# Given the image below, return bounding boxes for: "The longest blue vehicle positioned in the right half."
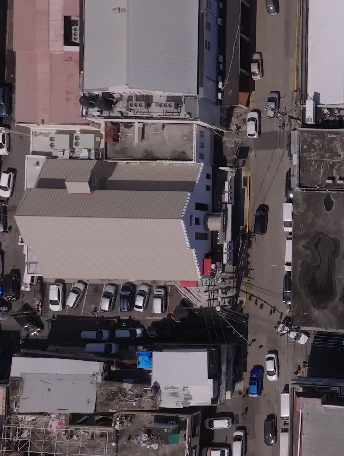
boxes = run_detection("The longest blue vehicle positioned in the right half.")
[249,365,264,400]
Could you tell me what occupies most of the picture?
buildings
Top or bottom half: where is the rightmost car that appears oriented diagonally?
bottom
